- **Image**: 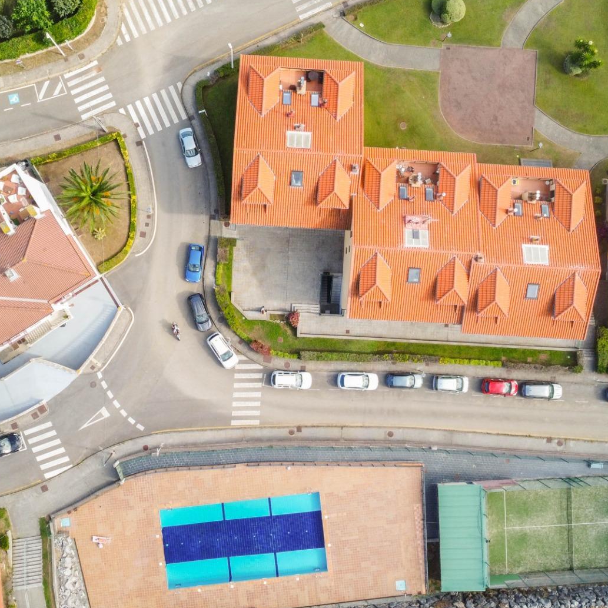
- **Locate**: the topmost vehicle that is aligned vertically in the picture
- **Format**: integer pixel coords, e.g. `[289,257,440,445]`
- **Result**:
[179,127,202,168]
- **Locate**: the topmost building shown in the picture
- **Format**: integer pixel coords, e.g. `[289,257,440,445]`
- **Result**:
[230,54,364,232]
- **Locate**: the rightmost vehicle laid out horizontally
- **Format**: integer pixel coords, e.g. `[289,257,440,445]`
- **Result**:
[521,381,562,401]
